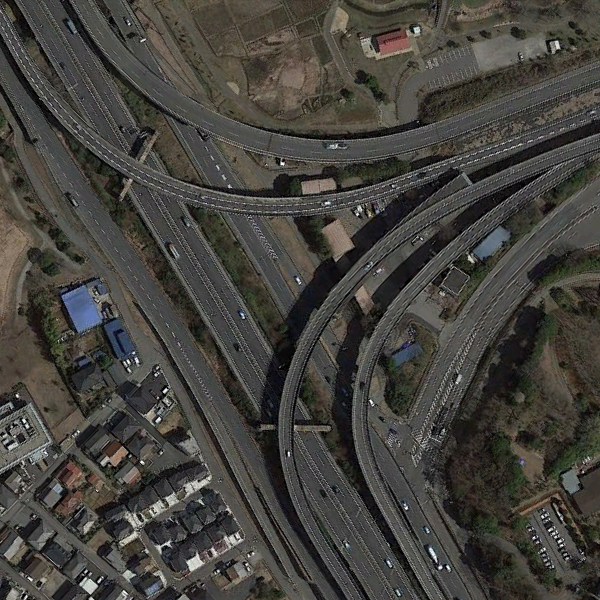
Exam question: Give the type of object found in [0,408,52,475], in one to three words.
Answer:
building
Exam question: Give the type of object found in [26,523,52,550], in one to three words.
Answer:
house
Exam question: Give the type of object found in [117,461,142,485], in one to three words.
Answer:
house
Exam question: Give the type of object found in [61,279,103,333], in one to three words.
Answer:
building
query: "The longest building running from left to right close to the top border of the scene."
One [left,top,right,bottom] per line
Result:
[363,29,412,57]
